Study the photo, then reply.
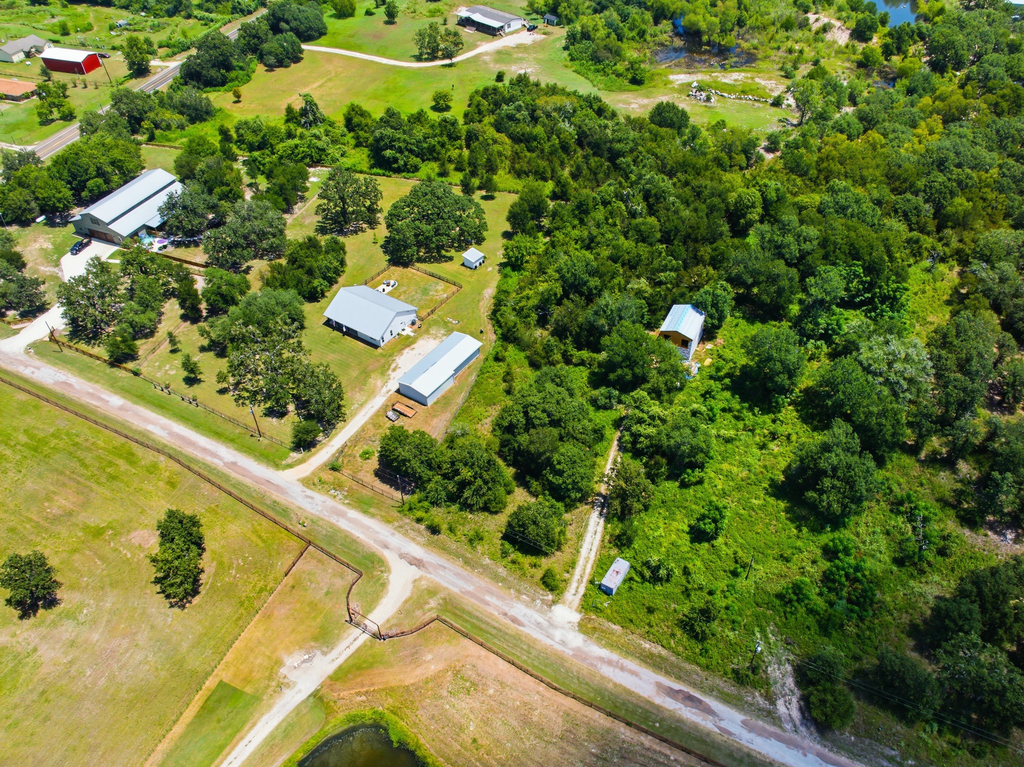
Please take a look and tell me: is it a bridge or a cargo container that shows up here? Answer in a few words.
cargo container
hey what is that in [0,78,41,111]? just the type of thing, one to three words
house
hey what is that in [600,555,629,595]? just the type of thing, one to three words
shipping container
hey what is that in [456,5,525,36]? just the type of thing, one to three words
house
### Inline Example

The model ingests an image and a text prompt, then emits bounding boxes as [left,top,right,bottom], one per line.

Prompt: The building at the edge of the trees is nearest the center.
[397,332,483,405]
